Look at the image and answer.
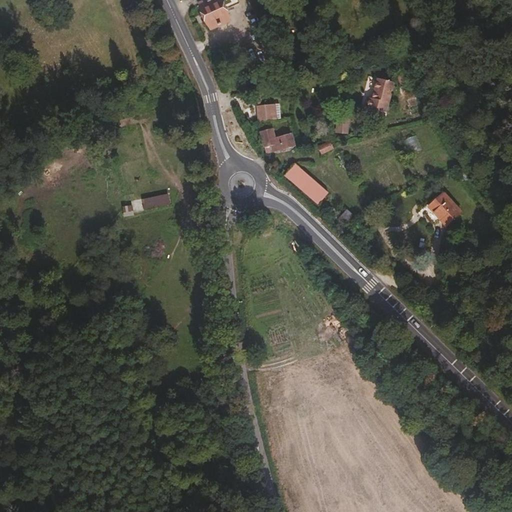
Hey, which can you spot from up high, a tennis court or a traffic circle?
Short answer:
traffic circle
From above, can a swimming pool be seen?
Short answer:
No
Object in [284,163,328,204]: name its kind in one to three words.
barn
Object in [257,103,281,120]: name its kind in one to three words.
shed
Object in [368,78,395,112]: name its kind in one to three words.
house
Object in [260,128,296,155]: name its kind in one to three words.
house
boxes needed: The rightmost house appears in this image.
[428,192,462,227]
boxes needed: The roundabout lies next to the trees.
[214,144,271,222]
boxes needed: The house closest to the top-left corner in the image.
[198,0,230,31]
